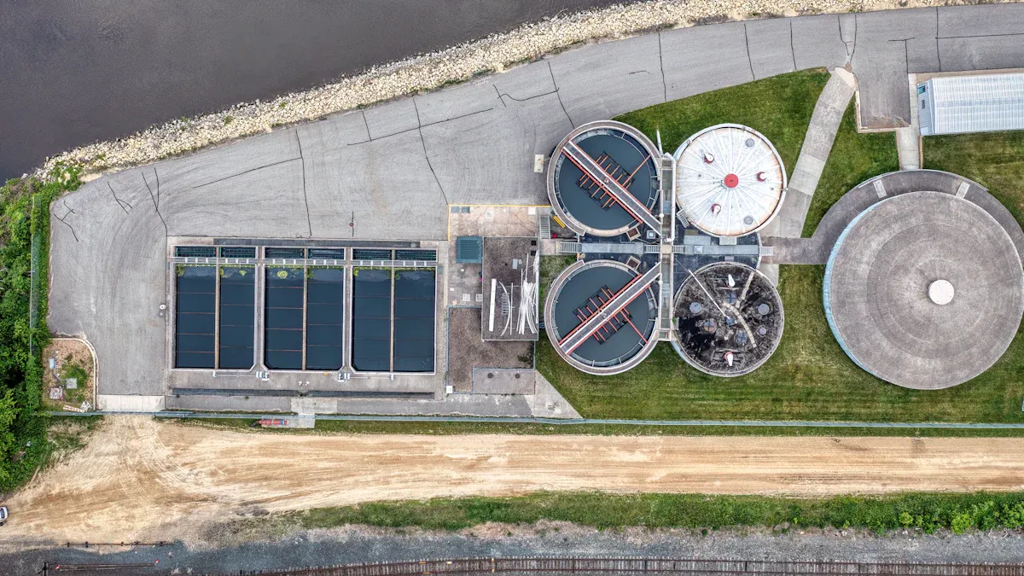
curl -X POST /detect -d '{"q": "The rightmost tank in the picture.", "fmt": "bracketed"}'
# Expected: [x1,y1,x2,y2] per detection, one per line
[823,191,1024,389]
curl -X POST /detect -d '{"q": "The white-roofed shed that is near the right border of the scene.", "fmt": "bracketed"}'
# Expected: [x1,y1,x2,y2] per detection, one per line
[917,72,1024,135]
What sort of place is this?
industrial area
